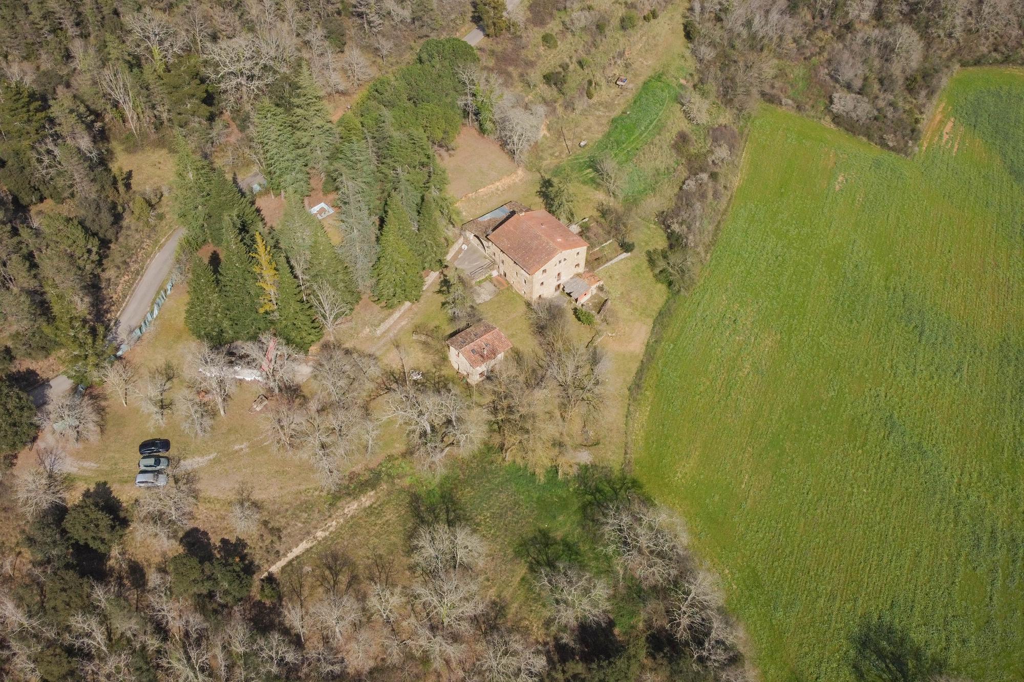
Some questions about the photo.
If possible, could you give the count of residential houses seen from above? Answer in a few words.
2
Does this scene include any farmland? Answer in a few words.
Yes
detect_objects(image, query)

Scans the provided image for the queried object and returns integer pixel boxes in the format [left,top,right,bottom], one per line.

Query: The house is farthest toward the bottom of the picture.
[440,323,505,390]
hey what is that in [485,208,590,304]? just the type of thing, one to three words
house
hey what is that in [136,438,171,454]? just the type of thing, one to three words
car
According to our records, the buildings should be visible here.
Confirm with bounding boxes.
[440,323,505,390]
[485,208,590,304]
